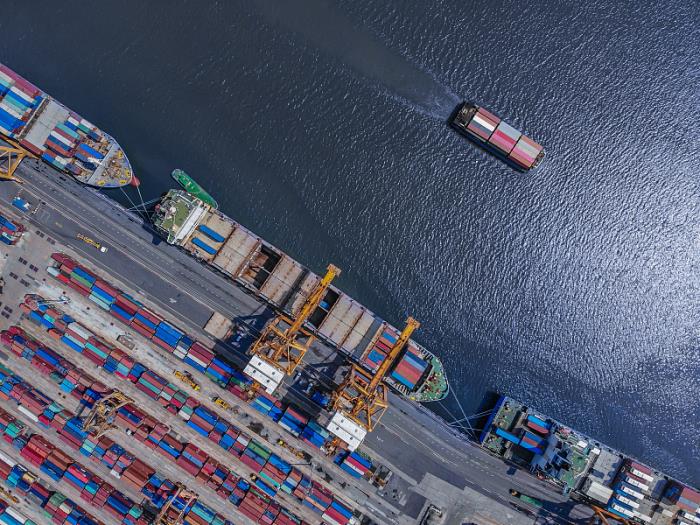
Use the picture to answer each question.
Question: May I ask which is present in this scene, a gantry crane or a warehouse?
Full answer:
Visible in the photo is a gantry crane.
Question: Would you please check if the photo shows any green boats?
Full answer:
Yes, there is a green boat in the image.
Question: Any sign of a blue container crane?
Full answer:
No, there's no blue container crane here.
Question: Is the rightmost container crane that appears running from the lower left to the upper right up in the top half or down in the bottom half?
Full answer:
It is in the bottom half that the rightmost container crane that appears running from the lower left to the upper right appears.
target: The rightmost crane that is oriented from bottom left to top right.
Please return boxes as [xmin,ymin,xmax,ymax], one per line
[321,314,421,450]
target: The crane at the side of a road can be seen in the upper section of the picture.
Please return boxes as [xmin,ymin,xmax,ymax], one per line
[0,134,44,187]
